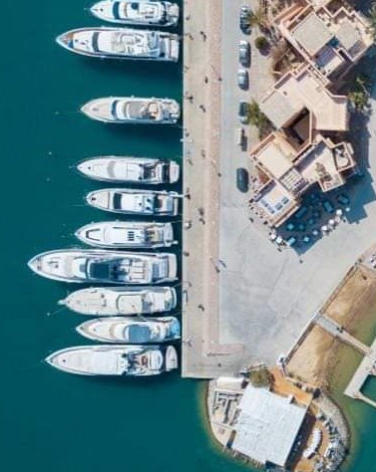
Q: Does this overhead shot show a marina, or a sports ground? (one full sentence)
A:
This looks like a marina.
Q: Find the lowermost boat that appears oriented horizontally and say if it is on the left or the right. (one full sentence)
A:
The lowermost boat that appears oriented horizontally appears in the left half of the scene.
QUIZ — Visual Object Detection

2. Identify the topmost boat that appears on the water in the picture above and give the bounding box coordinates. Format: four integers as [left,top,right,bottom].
[84,0,189,28]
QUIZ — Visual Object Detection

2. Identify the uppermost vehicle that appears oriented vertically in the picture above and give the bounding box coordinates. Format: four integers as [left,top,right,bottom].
[238,8,250,33]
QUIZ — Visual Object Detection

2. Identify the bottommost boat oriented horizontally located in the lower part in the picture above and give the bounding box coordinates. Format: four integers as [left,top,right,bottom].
[38,344,171,376]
